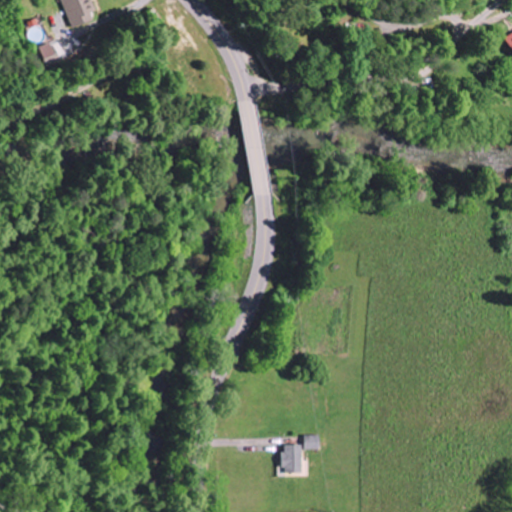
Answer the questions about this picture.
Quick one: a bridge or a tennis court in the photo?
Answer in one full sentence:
It is a bridge that can be seen here.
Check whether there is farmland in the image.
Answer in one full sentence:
Yes, there is farmland in the image.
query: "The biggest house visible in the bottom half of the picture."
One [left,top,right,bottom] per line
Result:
[281,444,302,474]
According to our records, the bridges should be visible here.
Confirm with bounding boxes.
[230,91,278,203]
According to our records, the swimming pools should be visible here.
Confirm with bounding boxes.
[26,25,44,44]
